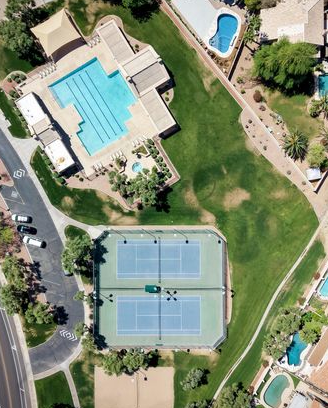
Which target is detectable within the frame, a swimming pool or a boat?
swimming pool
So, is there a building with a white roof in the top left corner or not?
Yes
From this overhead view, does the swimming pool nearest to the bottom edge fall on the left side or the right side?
right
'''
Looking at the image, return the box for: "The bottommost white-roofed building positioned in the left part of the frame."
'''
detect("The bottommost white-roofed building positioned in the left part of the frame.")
[44,141,76,173]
